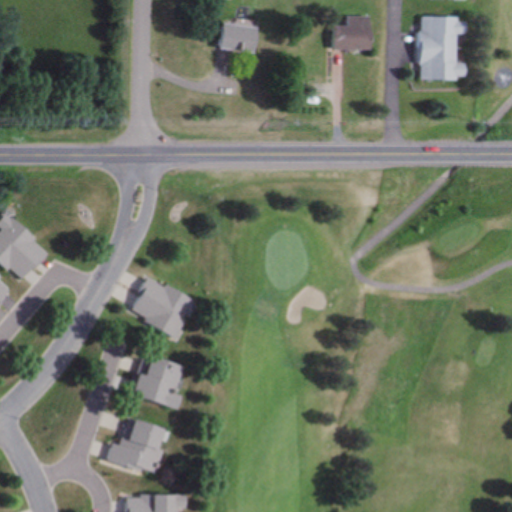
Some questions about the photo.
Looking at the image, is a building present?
Yes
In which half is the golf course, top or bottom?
bottom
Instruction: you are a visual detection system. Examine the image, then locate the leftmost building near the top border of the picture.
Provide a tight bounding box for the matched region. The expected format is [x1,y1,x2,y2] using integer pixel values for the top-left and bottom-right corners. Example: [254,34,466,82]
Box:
[220,6,258,54]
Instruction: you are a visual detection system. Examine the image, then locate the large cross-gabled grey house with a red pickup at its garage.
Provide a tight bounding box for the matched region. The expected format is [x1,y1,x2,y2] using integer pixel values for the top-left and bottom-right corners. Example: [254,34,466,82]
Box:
[0,214,48,278]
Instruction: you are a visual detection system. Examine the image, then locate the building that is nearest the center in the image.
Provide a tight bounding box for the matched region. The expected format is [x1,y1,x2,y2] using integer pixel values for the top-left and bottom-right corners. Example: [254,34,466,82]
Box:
[132,274,192,342]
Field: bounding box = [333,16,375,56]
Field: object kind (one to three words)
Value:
house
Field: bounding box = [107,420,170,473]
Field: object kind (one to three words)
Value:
house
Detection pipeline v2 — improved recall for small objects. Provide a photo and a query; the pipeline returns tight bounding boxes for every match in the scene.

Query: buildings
[107,420,170,473]
[132,274,192,342]
[137,360,182,409]
[220,6,258,54]
[154,494,187,512]
[0,274,10,302]
[333,16,375,56]
[127,494,151,512]
[414,16,469,82]
[0,214,48,278]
